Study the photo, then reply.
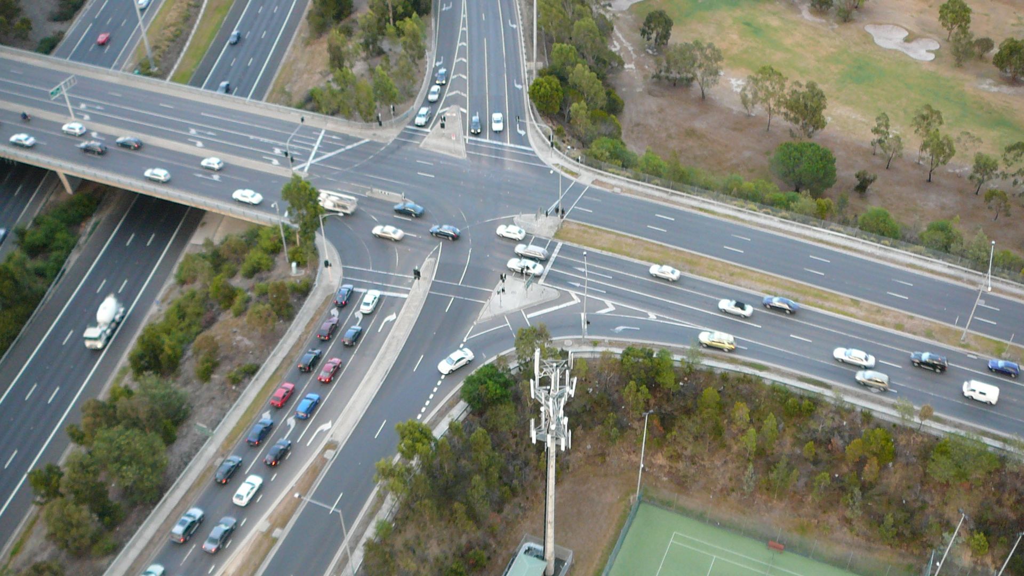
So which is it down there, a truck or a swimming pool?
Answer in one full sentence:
Of the two, only a truck appears.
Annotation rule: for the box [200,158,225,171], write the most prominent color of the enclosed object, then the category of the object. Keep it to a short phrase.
white vehicle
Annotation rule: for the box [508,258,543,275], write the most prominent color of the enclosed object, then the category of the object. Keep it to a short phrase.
white car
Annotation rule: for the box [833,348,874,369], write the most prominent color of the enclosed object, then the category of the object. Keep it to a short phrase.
white car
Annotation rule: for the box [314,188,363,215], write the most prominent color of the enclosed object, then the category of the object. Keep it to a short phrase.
white truck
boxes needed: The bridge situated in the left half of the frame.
[0,46,342,230]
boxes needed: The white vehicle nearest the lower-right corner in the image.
[960,380,1002,405]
